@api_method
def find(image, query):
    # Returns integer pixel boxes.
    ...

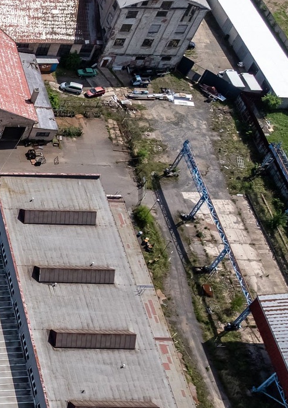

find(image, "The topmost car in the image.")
[186,36,202,51]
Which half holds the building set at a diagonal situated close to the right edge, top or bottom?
top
